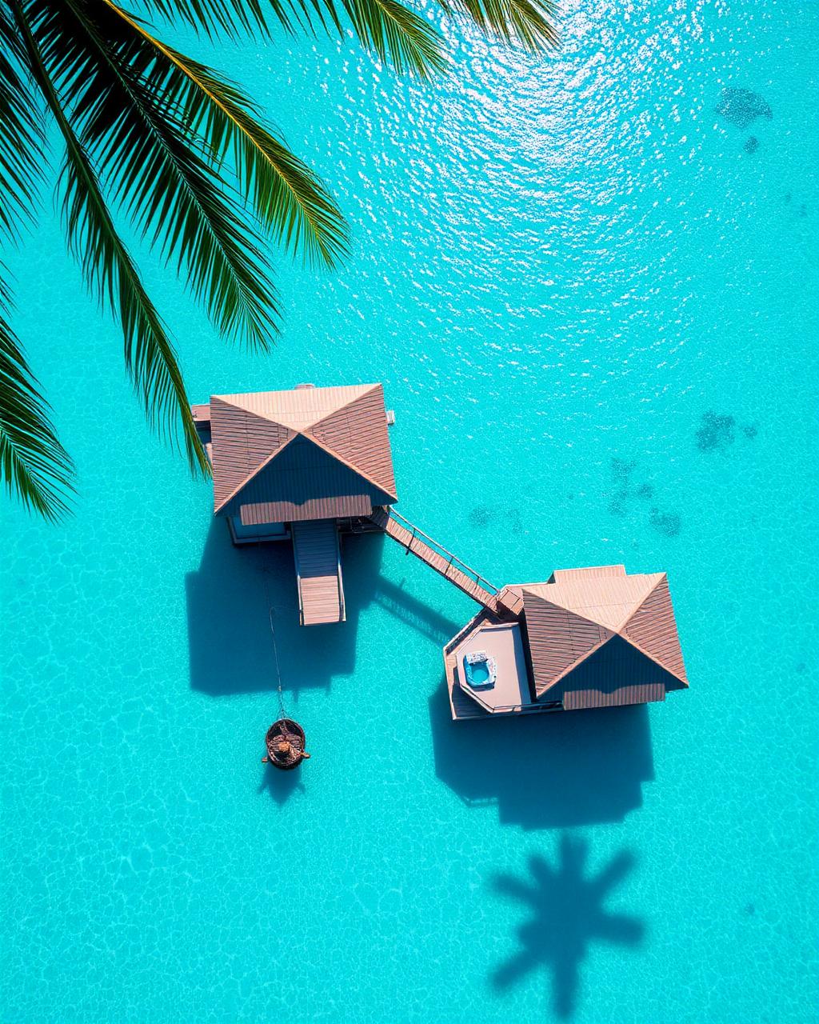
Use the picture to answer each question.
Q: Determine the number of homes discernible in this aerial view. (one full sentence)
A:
The photo contains 2 homes.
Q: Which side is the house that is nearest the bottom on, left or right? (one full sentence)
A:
It is on the right.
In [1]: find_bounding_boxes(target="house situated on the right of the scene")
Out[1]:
[444,564,691,720]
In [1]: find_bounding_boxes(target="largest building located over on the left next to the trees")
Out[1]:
[192,381,399,626]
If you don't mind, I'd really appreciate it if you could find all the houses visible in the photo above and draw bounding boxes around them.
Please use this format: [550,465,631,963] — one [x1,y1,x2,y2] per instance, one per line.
[444,564,691,720]
[192,381,399,626]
